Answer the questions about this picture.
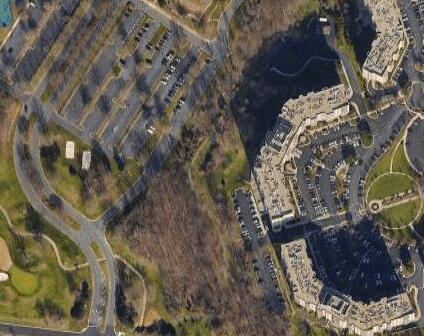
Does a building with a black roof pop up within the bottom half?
No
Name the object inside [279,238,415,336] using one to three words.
building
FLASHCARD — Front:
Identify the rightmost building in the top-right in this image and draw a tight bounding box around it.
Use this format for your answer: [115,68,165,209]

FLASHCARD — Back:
[360,0,406,86]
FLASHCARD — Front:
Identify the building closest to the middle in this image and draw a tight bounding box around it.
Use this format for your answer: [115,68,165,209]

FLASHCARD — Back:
[253,83,354,229]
